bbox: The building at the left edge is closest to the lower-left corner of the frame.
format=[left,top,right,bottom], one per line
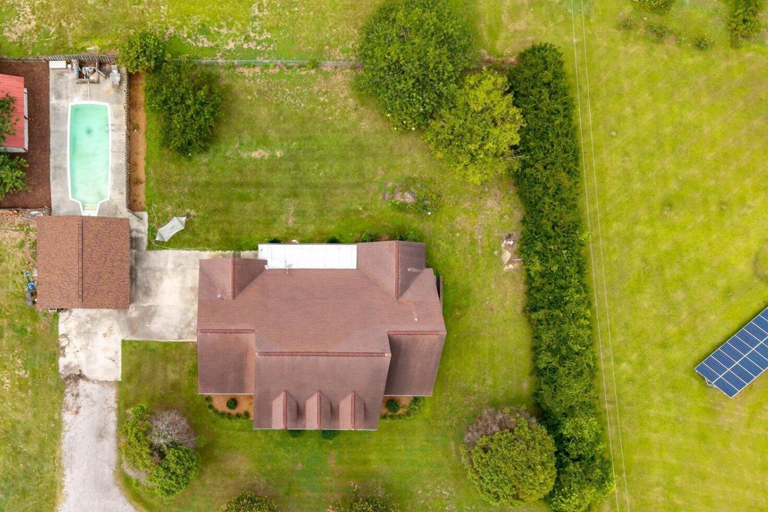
[36,214,131,309]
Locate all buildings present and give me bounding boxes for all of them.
[196,240,444,430]
[0,73,28,152]
[36,214,131,309]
